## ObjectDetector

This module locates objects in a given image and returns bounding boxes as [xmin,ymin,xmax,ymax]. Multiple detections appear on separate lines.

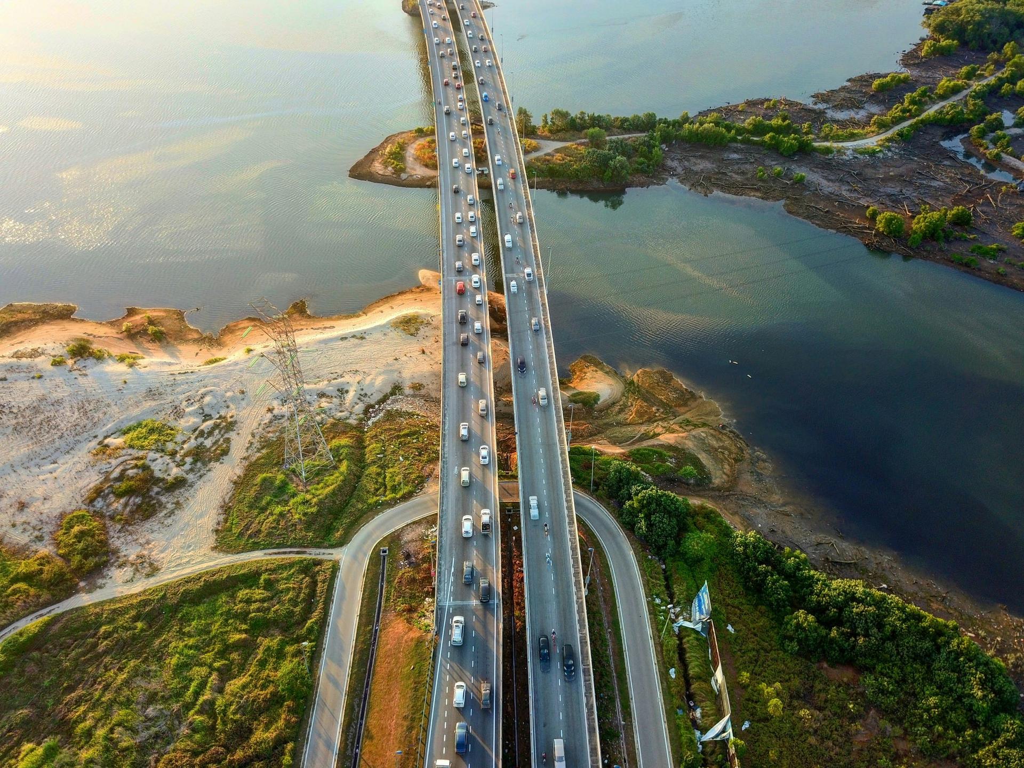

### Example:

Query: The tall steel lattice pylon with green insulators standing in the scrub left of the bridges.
[238,297,350,485]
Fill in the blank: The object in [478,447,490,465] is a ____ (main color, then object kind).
white vehicle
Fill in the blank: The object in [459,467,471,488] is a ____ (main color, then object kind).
white vehicle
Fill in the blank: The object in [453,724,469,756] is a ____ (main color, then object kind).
blue car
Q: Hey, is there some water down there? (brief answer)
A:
Yes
